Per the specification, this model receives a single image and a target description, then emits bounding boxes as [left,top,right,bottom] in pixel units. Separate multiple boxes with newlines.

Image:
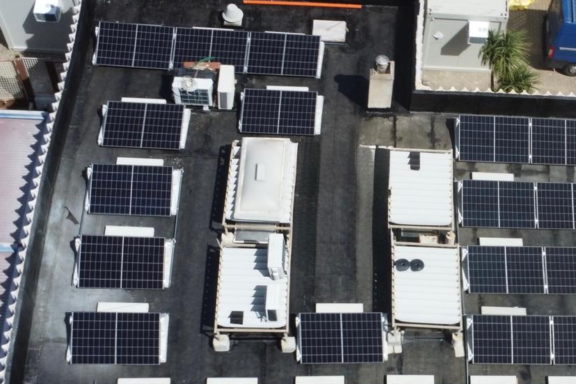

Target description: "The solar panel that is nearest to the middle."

[241,87,317,136]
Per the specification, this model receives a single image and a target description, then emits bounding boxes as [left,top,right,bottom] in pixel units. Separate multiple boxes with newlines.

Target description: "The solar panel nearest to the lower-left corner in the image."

[71,312,161,366]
